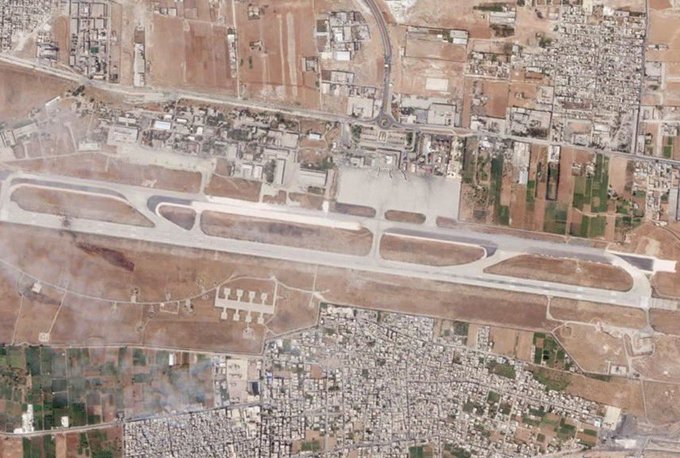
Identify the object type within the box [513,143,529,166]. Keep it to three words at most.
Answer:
building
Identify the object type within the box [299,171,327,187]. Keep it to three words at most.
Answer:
hangar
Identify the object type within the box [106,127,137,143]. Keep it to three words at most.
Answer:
hangar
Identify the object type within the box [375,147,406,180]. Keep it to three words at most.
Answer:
building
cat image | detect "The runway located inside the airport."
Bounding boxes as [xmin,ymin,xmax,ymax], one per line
[0,210,649,307]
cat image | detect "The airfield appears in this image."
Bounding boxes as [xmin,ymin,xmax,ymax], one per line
[0,123,680,350]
